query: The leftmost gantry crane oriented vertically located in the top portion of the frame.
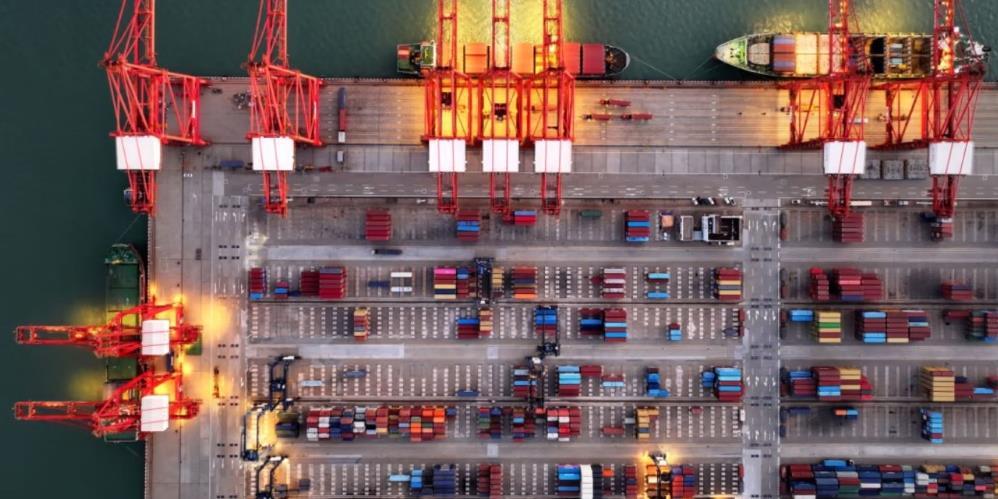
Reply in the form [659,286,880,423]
[103,0,207,213]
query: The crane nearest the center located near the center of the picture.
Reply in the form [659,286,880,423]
[473,255,497,309]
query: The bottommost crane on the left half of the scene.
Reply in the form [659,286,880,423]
[254,457,289,499]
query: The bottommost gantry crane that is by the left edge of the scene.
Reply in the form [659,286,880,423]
[17,367,204,435]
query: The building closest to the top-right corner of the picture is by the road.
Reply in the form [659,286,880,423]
[703,214,747,244]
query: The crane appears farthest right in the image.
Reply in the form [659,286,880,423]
[871,0,990,213]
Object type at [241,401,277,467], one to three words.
crane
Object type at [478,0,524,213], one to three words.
container crane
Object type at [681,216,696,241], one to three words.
building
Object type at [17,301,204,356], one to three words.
container crane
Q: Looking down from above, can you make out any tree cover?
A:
No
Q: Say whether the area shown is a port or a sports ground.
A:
port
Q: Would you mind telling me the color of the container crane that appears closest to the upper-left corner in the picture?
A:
red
